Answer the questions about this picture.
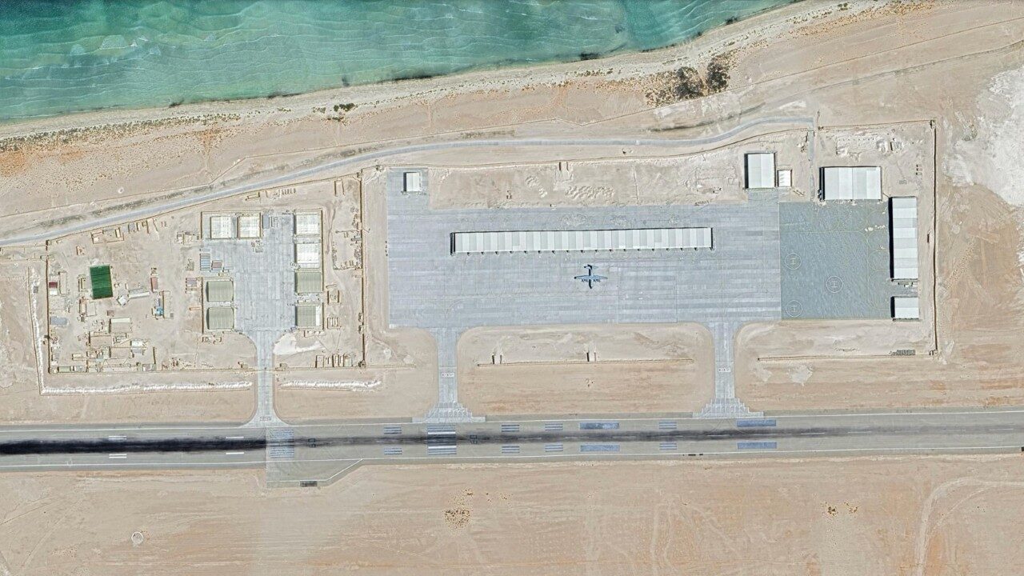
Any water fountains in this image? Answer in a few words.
No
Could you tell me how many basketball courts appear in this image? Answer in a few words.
none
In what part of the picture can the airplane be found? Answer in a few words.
center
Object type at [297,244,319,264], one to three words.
hangar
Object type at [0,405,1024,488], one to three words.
runway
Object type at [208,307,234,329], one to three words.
hangar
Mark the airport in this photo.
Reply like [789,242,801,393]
[0,167,1024,488]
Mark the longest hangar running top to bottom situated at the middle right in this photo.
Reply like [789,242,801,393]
[892,197,918,281]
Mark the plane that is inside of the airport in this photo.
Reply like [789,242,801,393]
[576,266,608,289]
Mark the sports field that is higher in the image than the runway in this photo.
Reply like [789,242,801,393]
[90,264,113,299]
